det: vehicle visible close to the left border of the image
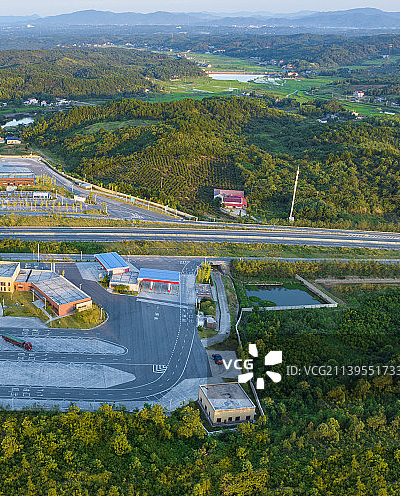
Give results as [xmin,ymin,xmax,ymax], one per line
[0,331,34,351]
